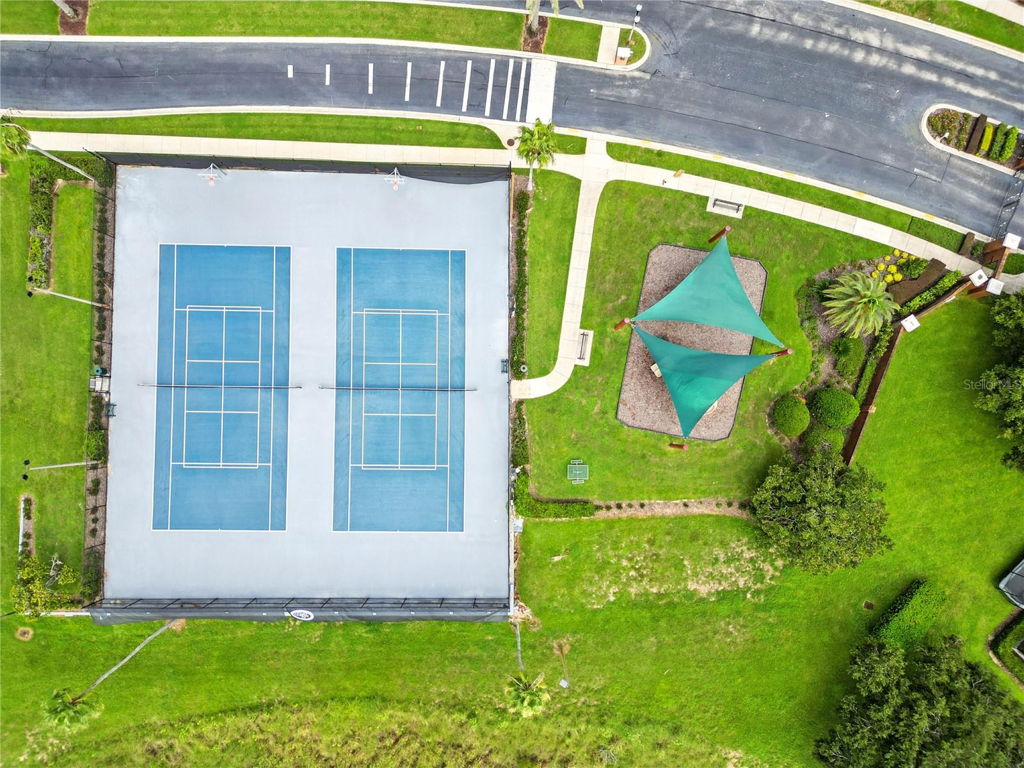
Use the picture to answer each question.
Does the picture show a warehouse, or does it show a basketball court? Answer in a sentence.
Of the two, only a basketball court appears.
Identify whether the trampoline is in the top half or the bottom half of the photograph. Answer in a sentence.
It is in the bottom half that the trampoline appears.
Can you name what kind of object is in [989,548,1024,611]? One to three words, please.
trampoline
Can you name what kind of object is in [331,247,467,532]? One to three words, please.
tennis court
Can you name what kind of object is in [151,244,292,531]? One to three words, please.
tennis court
